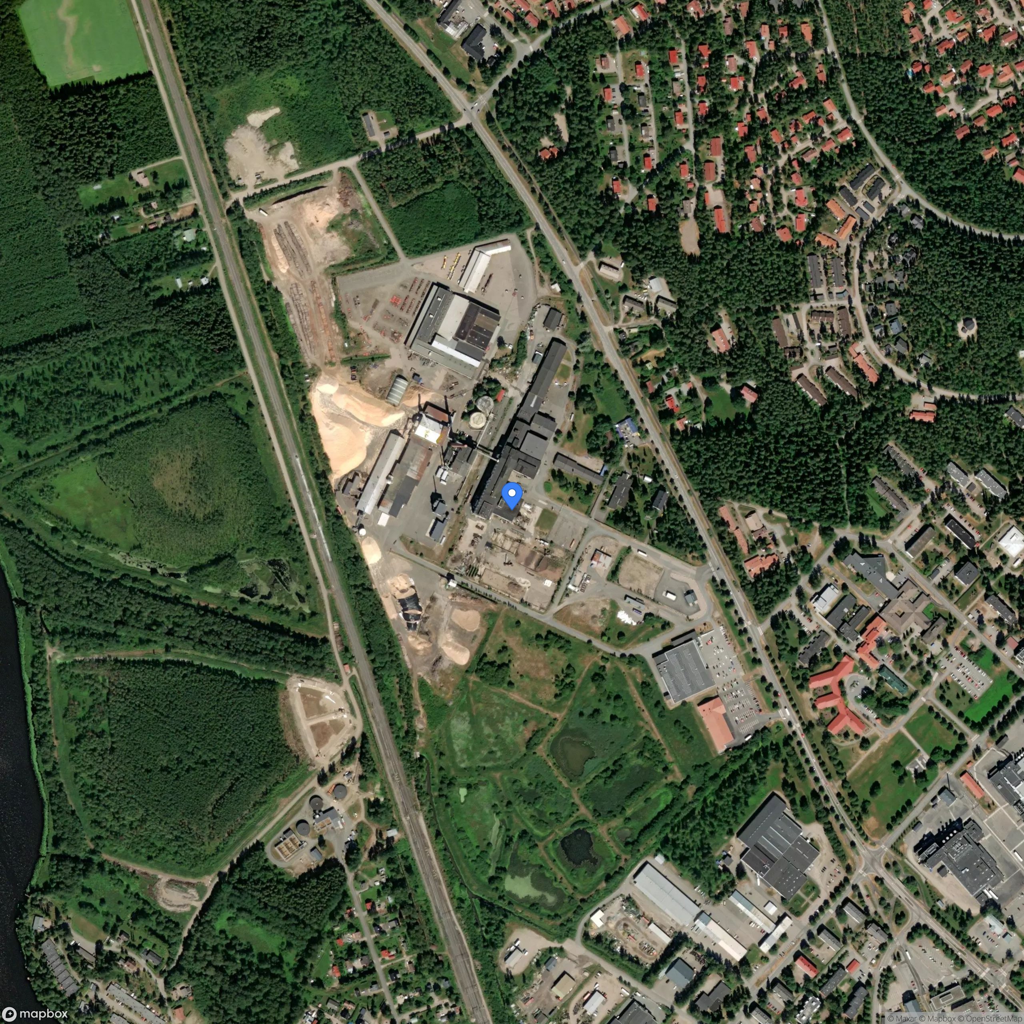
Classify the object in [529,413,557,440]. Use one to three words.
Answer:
building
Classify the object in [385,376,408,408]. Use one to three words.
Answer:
shed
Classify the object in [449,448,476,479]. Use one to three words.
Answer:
building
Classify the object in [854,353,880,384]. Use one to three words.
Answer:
house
